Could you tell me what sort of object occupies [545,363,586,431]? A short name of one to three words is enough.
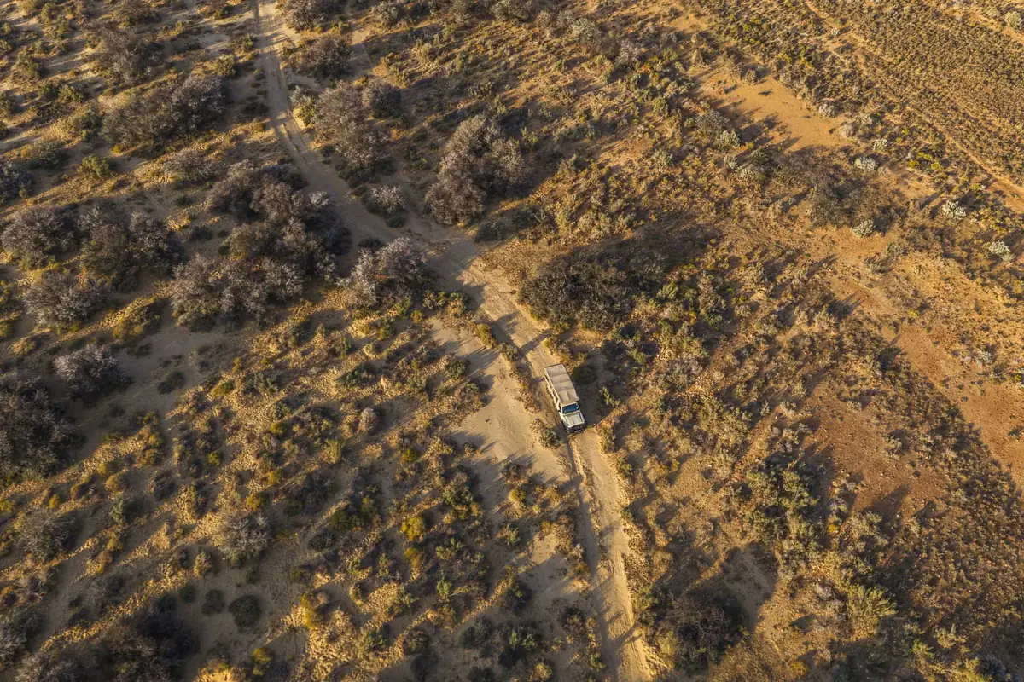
truck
